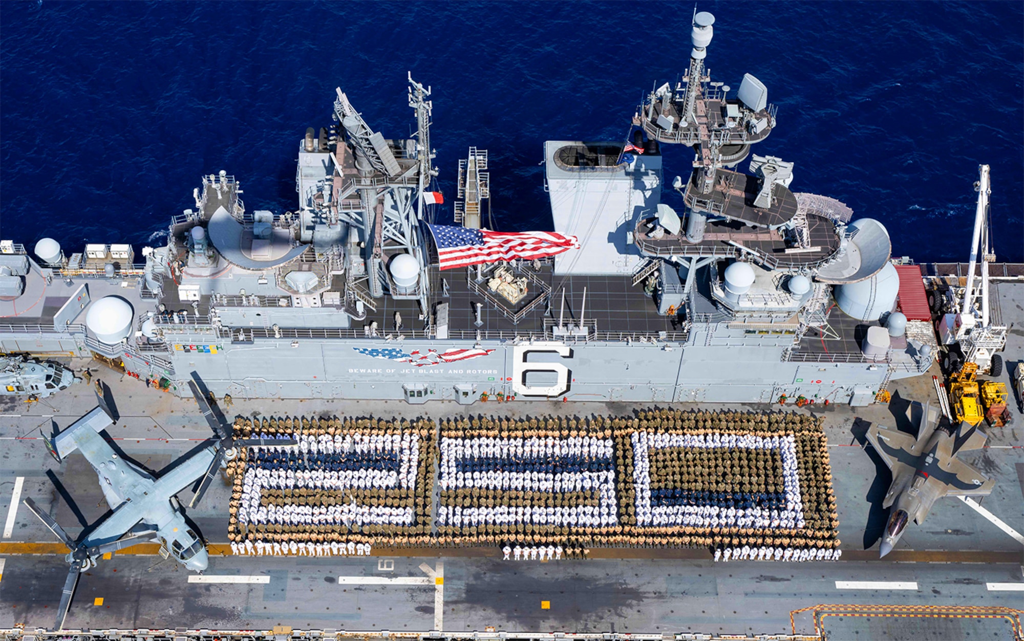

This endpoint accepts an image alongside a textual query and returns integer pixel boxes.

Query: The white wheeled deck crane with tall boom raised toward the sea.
[933,164,1011,381]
